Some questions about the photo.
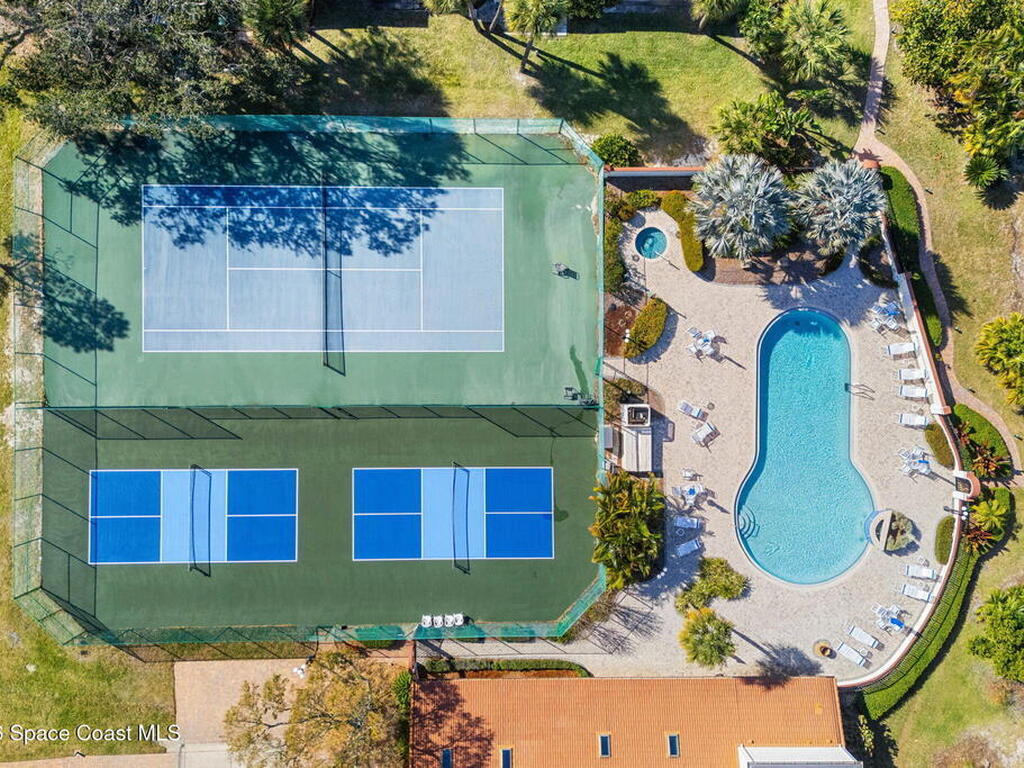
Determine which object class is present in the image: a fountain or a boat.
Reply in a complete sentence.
There is a fountain in the scene.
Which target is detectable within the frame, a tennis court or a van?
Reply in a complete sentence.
Visible in the photo is a tennis court.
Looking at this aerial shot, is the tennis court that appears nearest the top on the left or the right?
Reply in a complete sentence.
You can find the tennis court that appears nearest the top on the left side of the picture.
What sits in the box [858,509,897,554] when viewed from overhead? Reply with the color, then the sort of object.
white fountain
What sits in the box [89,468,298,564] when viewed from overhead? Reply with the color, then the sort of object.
blue sports court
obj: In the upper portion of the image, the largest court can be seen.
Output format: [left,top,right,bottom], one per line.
[42,130,598,406]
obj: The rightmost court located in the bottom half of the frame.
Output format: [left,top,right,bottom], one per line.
[352,466,554,561]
